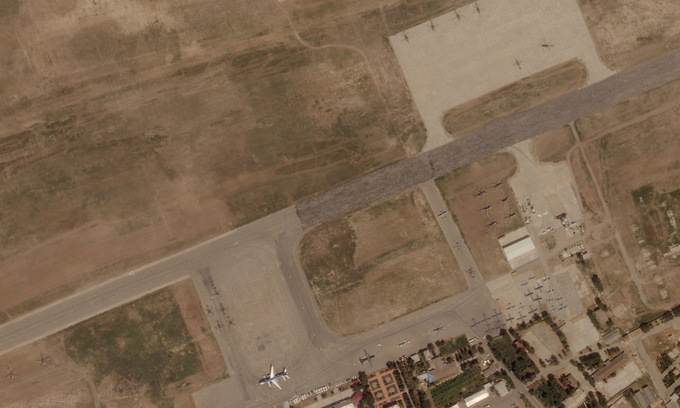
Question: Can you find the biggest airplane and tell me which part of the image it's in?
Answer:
bottom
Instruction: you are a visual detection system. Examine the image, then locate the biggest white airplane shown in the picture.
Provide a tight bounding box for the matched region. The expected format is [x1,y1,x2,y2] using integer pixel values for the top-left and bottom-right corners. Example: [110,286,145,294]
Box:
[260,367,289,391]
